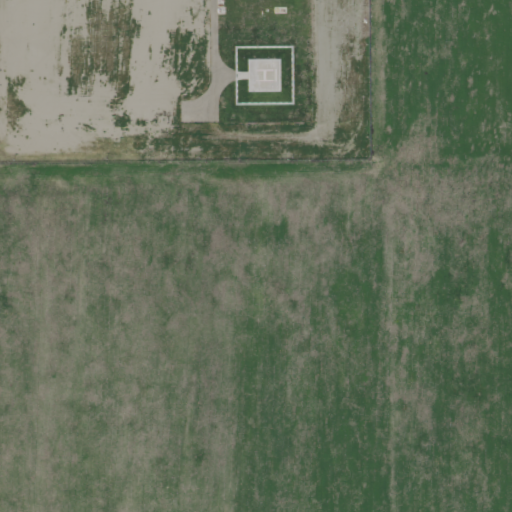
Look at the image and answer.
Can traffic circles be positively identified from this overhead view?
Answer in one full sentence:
No, there appears to be no traffic circle in this shot.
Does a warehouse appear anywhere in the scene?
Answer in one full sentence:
No, I find no warehouse anywhere in the image.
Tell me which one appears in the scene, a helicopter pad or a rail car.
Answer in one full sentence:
The one in the frame is a helicopter pad.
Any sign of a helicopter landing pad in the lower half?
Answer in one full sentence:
No, in the lower half there is no helicopter landing pad.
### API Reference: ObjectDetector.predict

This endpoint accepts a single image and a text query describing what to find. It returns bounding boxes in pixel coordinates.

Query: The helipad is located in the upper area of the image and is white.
[235,46,294,106]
